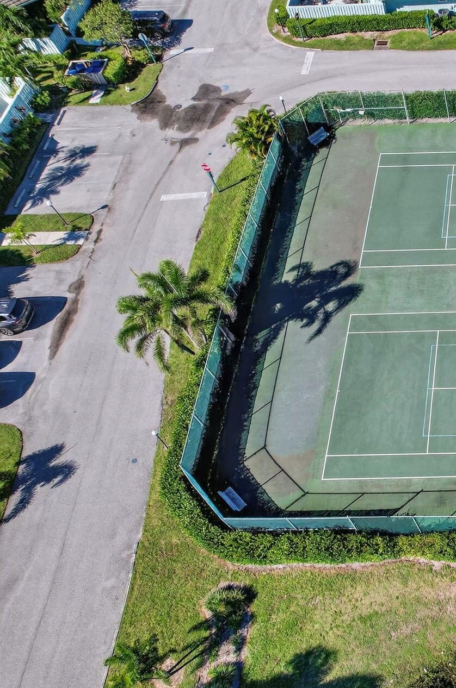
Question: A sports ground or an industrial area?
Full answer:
The area seen from above is a sports ground.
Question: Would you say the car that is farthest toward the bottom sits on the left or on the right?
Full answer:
You can find the car that is farthest toward the bottom on the left side of the picture.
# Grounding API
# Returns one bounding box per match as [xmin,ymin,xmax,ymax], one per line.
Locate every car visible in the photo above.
[125,14,176,46]
[0,295,40,334]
